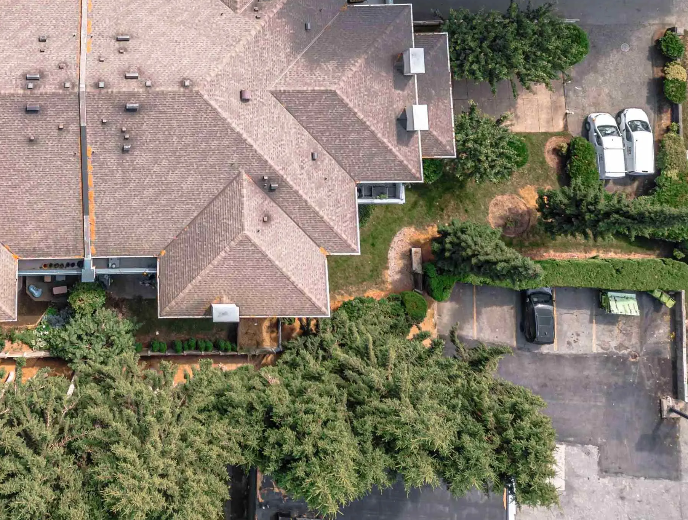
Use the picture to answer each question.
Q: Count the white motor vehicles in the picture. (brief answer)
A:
two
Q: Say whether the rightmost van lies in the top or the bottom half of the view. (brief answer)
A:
top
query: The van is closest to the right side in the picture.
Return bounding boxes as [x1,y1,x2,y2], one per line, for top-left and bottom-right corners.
[616,109,656,175]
